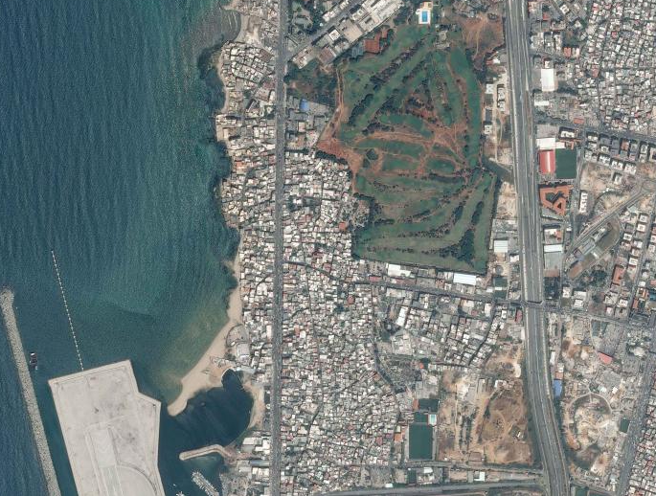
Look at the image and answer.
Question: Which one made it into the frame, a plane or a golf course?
golf course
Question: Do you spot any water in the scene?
Yes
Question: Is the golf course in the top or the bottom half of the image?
top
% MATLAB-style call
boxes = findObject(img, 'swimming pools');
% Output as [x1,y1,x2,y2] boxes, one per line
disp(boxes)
[429,413,437,425]
[419,9,431,25]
